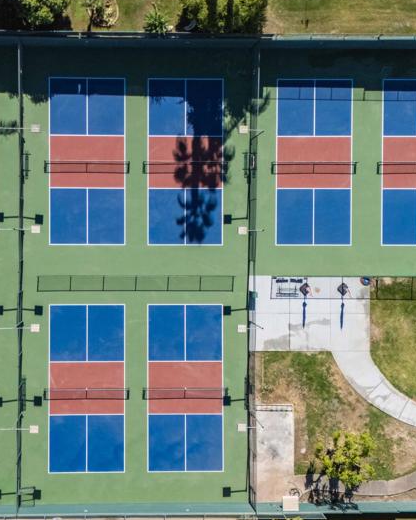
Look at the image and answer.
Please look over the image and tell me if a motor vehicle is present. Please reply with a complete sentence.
No, there's no motor vehicle here.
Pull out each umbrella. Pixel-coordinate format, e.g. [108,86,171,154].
[299,284,314,296]
[337,285,353,296]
